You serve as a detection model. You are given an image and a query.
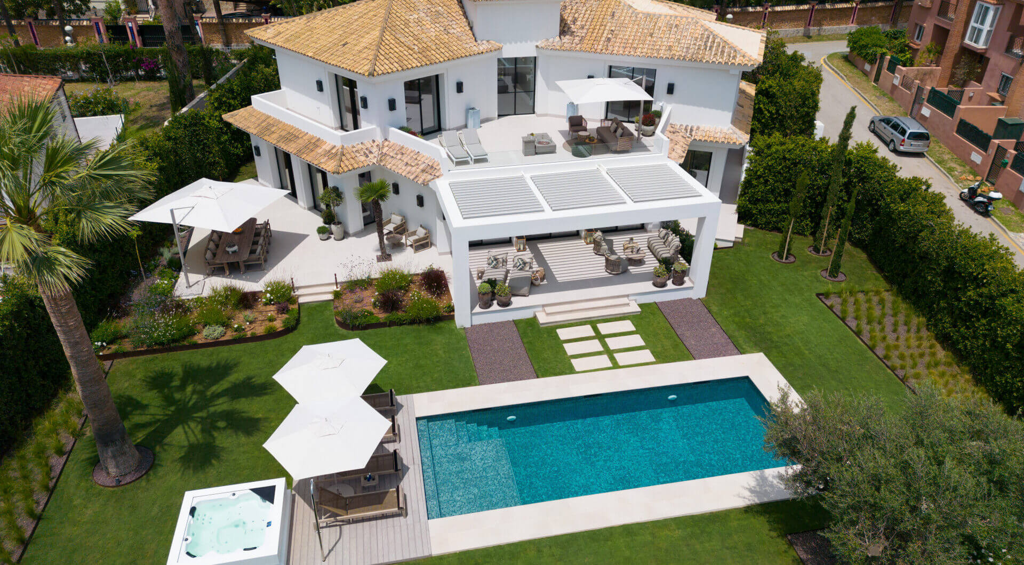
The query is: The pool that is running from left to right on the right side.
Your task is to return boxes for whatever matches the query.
[413,352,873,556]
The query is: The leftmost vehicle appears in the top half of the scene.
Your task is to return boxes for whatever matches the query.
[870,110,940,153]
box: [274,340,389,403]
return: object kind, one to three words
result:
umbrella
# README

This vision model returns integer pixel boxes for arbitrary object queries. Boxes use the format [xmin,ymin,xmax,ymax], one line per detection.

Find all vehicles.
[963,170,1001,214]
[870,110,940,153]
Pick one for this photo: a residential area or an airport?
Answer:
residential area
